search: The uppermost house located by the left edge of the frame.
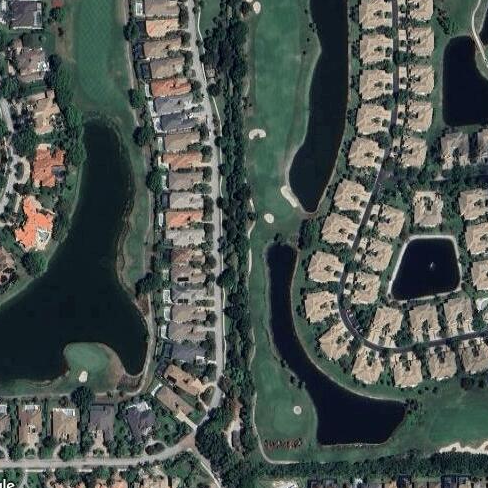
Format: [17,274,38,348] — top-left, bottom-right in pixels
[6,0,49,25]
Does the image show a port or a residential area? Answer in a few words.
residential area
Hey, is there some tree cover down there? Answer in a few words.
Yes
